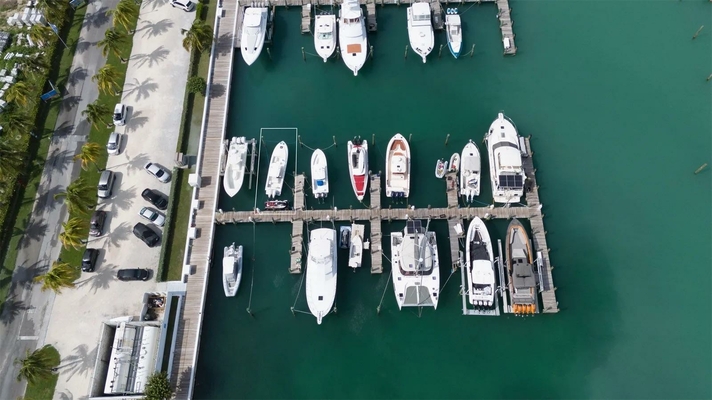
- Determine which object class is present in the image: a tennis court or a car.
car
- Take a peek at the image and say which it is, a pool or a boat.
boat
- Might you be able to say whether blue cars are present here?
No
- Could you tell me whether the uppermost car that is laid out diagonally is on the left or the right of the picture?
left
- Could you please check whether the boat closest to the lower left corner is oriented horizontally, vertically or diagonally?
vertically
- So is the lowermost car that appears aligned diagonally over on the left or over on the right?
left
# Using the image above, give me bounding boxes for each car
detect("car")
[112,102,129,127]
[88,209,108,239]
[106,130,124,157]
[144,160,172,184]
[131,220,163,248]
[97,168,117,200]
[136,203,166,227]
[140,186,168,211]
[170,0,196,13]
[81,245,101,275]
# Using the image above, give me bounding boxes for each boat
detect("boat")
[350,233,362,271]
[240,3,267,66]
[222,242,243,298]
[349,134,369,199]
[446,7,462,58]
[435,158,446,179]
[224,137,247,196]
[503,218,537,316]
[465,216,496,311]
[386,133,410,202]
[266,200,289,209]
[405,0,435,61]
[389,221,441,319]
[312,147,328,200]
[266,140,287,201]
[460,136,481,202]
[337,0,367,75]
[305,227,339,324]
[309,0,338,62]
[487,112,526,210]
[448,153,460,173]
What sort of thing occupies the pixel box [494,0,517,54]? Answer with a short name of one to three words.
pier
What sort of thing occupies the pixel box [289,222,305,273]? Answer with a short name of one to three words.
pier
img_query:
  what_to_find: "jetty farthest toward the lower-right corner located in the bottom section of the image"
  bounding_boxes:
[528,218,559,312]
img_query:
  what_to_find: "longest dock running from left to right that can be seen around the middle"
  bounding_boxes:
[215,202,544,227]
